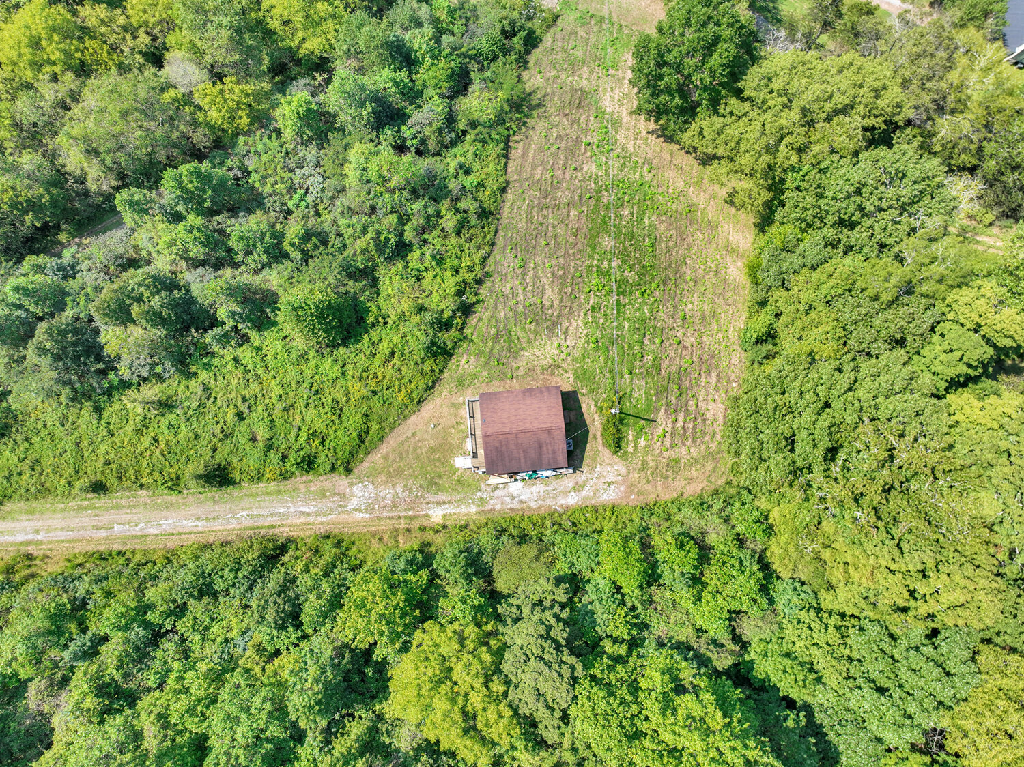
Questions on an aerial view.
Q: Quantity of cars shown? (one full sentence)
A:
The picture shows no cars.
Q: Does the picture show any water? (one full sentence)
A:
No, the picture contains no water.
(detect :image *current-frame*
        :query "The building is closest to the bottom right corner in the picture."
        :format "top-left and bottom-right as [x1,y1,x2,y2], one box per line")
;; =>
[455,386,569,475]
